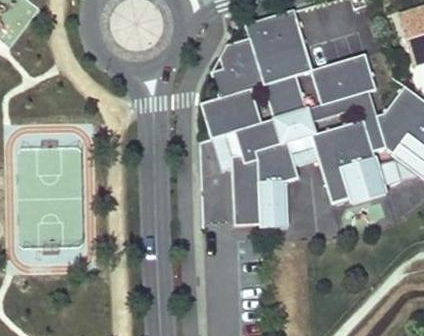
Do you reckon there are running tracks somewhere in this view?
Yes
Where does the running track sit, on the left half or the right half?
left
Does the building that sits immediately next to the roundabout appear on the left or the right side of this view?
right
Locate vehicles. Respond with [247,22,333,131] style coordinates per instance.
[241,324,261,334]
[162,66,171,82]
[240,262,258,272]
[312,46,326,66]
[240,288,260,298]
[206,231,216,254]
[240,312,260,322]
[240,300,260,310]
[143,236,154,260]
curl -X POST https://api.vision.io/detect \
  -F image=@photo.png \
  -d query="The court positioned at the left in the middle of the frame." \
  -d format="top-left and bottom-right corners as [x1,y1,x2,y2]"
[16,135,82,264]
